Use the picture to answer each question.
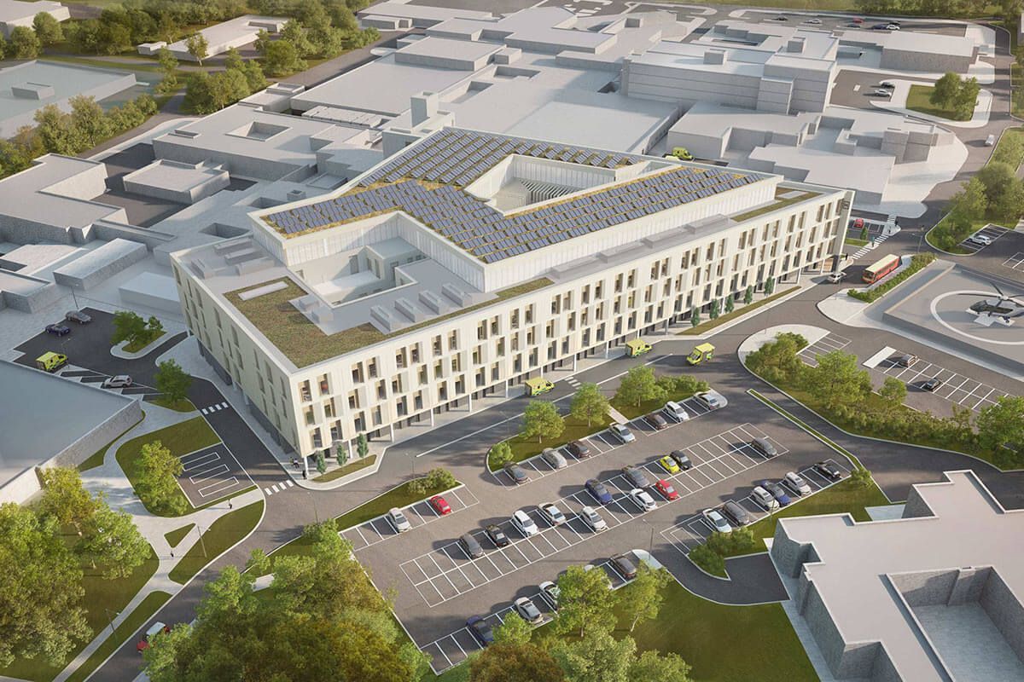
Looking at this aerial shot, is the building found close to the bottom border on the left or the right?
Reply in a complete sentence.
It is on the right.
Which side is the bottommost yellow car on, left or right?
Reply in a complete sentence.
It is on the right.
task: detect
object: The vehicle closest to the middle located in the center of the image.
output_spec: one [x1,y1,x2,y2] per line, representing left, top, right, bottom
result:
[521,377,555,399]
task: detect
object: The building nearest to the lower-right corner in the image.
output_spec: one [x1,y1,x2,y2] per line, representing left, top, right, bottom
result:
[773,471,1024,682]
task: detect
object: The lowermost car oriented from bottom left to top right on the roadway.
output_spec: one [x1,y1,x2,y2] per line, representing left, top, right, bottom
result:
[138,618,170,651]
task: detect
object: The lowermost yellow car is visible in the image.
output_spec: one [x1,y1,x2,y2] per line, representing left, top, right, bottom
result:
[658,455,680,475]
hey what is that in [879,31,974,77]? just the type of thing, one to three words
building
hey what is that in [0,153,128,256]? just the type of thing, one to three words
building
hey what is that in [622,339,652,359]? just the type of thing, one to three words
vehicle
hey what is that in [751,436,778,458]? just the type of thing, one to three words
car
